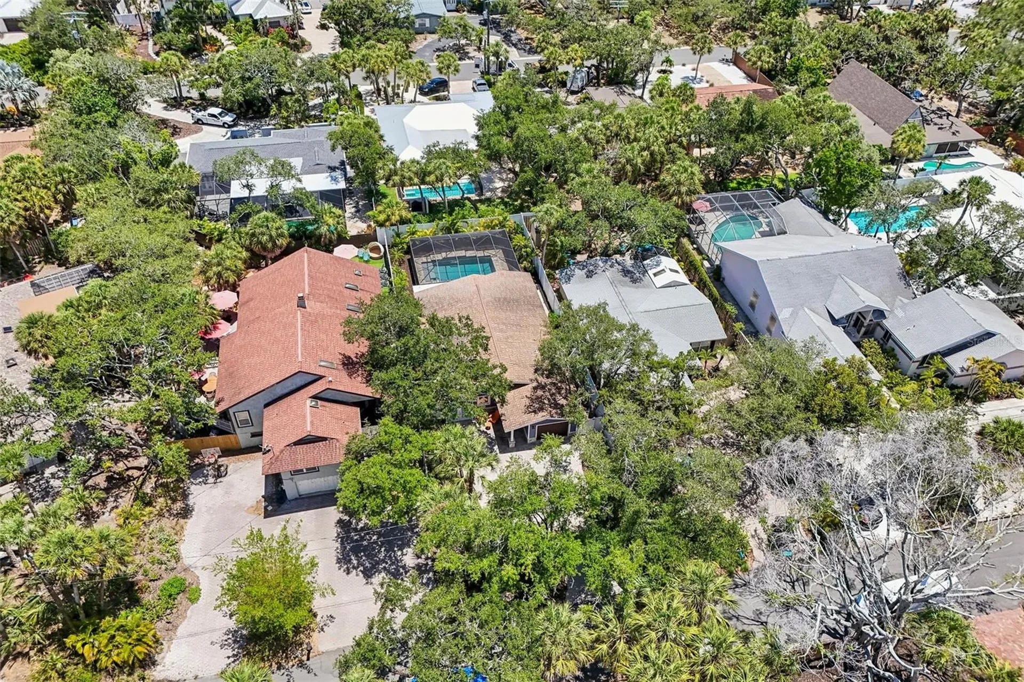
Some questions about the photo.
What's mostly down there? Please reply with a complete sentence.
For the most part, this view shows trees.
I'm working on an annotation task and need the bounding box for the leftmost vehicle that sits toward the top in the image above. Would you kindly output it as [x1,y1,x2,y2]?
[190,103,237,127]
